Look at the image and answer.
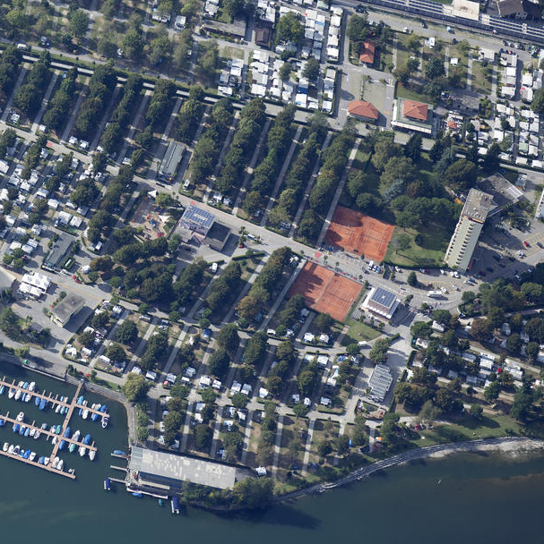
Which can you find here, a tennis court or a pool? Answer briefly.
tennis court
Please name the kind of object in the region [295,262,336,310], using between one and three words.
tennis court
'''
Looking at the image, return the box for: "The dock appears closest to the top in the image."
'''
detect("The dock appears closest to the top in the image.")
[0,377,110,421]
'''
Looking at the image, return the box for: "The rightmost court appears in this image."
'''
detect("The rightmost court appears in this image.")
[354,215,395,261]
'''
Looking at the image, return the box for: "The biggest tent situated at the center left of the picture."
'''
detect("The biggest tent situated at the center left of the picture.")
[25,273,51,294]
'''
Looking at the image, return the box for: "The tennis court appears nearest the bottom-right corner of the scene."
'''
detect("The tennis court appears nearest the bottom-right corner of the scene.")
[315,273,363,321]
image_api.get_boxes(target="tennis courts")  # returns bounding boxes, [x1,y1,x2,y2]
[315,273,363,321]
[354,215,395,261]
[295,262,336,310]
[327,206,366,252]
